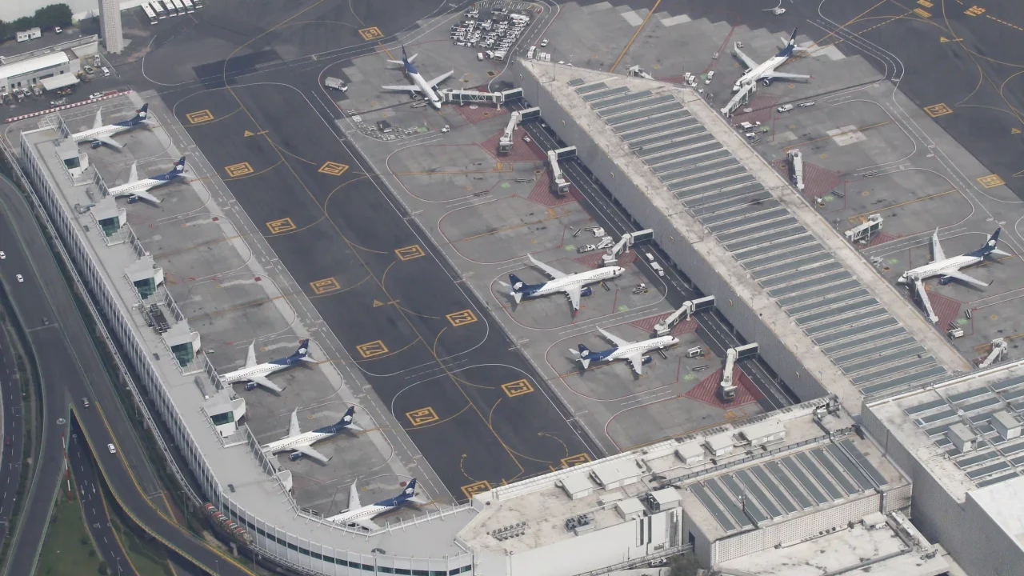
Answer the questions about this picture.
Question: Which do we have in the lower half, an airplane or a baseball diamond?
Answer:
airplane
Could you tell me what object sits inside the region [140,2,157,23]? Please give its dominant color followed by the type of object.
white vehicle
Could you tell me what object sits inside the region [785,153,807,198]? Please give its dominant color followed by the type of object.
white jet bridge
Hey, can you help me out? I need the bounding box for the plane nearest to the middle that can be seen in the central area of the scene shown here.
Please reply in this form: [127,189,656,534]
[499,251,625,309]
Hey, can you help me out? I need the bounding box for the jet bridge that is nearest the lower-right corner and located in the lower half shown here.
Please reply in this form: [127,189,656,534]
[974,338,1005,371]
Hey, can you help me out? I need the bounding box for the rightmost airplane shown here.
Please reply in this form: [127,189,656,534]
[898,226,1013,285]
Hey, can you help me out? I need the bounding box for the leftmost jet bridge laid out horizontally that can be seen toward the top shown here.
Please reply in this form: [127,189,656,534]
[438,88,524,117]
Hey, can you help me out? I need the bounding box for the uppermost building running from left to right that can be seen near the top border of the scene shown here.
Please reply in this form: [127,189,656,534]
[14,25,41,42]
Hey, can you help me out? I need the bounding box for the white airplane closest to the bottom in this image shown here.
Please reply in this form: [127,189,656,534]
[323,477,428,531]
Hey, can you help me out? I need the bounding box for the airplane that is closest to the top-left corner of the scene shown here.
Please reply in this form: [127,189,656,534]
[66,104,157,149]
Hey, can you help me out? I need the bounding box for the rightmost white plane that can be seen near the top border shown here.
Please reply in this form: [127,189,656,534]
[732,28,813,91]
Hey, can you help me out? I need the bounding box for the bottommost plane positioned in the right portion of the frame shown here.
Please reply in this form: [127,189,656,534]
[569,325,679,374]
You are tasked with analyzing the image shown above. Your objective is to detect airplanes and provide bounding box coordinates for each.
[323,477,428,531]
[102,157,194,204]
[260,404,365,461]
[898,226,1013,285]
[379,47,453,109]
[499,251,625,309]
[217,336,319,390]
[66,104,157,149]
[732,28,813,91]
[569,325,679,374]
